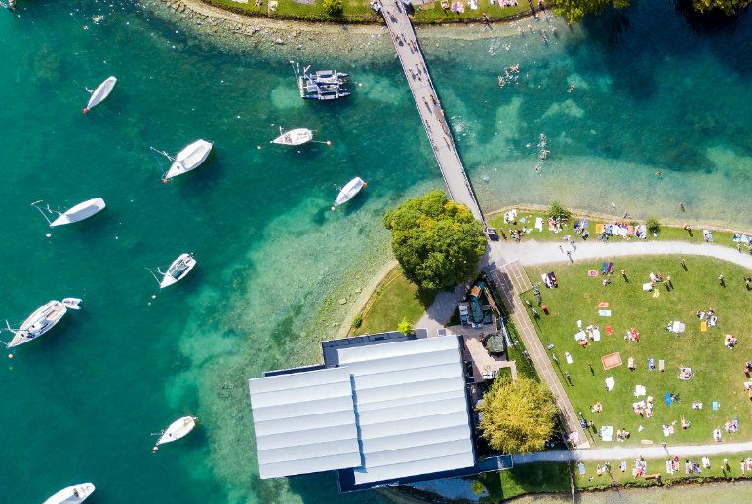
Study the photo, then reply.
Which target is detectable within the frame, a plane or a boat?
boat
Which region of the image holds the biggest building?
bottom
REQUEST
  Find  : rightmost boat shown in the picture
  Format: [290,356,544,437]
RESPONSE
[334,176,368,208]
